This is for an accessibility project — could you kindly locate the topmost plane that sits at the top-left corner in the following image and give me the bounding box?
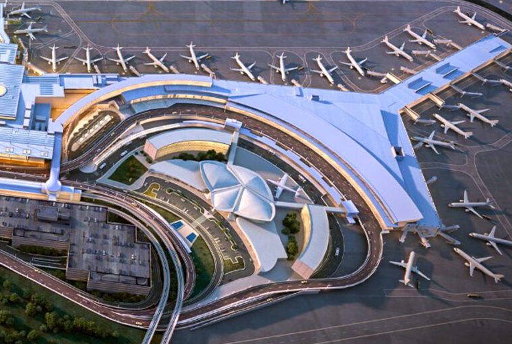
[9,0,42,17]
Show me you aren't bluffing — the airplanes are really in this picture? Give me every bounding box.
[377,32,413,62]
[401,20,436,49]
[15,20,48,39]
[70,43,107,71]
[303,50,343,84]
[433,114,474,138]
[36,46,73,71]
[262,51,303,82]
[9,0,42,17]
[452,3,484,30]
[333,43,373,75]
[469,224,512,256]
[103,42,138,71]
[449,186,498,219]
[455,249,507,282]
[461,104,502,125]
[224,49,260,81]
[137,44,170,72]
[412,129,460,156]
[176,41,212,70]
[385,252,435,288]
